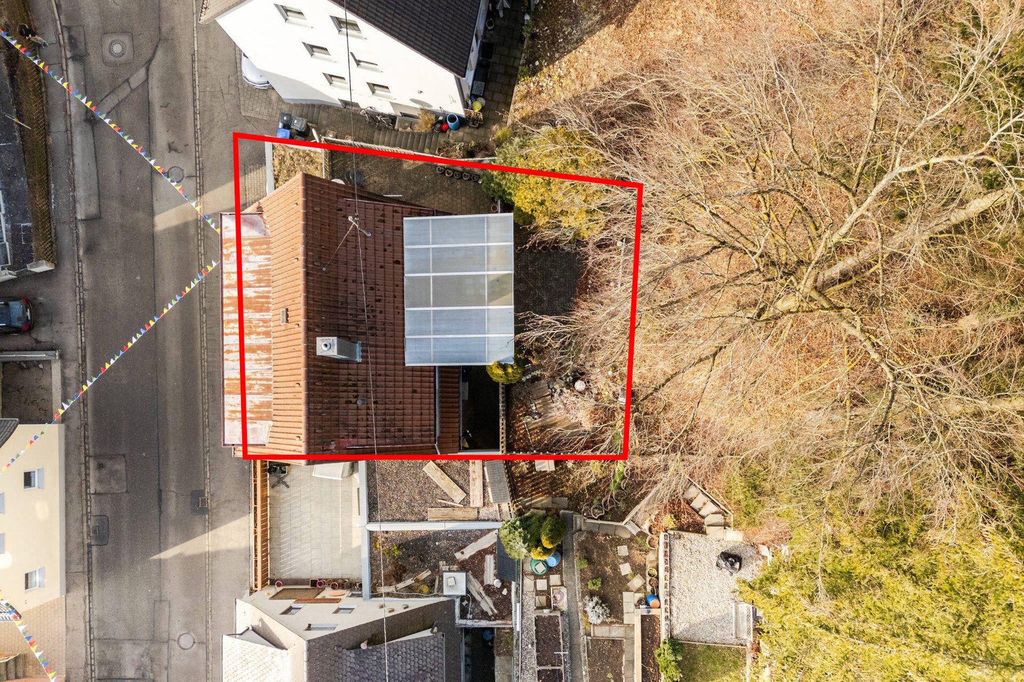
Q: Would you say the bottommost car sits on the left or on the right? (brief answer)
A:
left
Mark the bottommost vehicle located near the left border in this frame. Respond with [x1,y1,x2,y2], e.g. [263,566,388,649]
[0,297,35,335]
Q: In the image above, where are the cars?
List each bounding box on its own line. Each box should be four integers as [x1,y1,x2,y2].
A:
[232,42,273,92]
[0,297,35,335]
